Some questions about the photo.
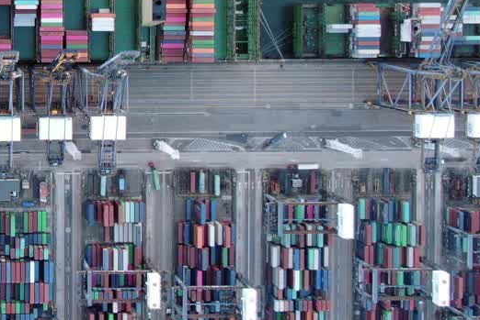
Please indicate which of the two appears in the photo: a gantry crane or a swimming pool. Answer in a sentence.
The image shows a gantry crane.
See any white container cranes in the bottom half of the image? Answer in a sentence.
Yes, looking in the bottom half of the image, one can make out a white container crane.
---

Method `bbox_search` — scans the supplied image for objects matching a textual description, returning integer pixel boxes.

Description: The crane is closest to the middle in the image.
[260,192,353,241]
